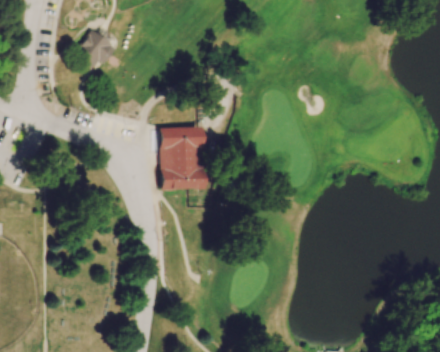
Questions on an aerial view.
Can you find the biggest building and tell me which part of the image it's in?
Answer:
center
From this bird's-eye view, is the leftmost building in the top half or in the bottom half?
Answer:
top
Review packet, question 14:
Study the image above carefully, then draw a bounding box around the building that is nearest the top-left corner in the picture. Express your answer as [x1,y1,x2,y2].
[78,30,115,69]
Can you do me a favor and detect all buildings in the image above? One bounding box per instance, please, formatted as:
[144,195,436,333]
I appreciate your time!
[78,30,115,69]
[160,126,209,190]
